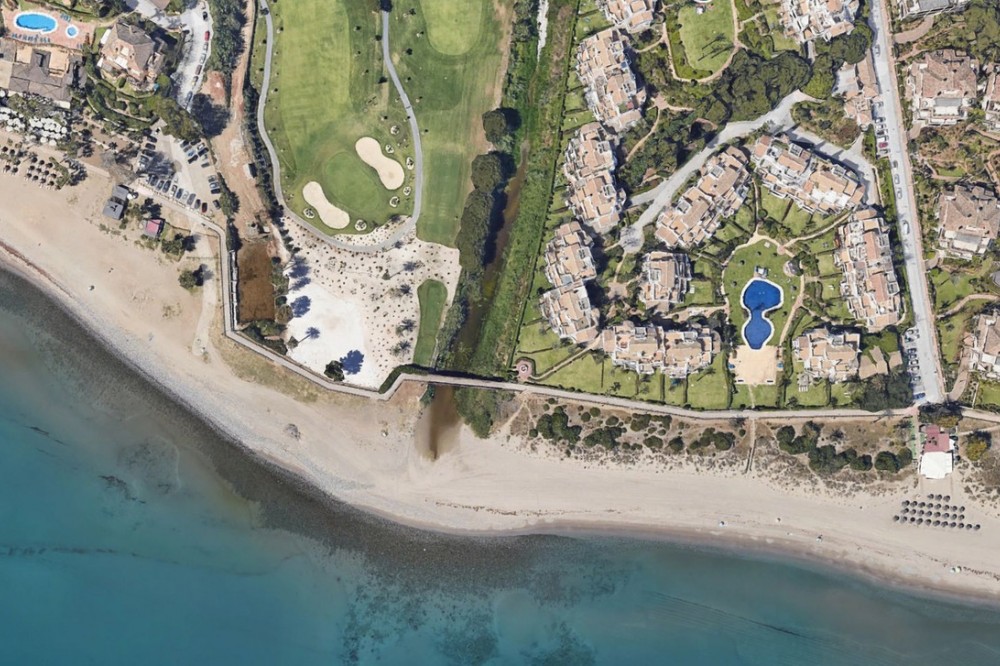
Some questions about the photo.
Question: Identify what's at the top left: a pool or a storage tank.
pool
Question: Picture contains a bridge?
No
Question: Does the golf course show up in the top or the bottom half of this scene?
top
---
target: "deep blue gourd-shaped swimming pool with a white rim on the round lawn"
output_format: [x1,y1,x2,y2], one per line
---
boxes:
[741,278,783,352]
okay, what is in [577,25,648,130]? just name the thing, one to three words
building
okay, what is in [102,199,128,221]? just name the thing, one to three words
shed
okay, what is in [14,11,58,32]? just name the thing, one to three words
swimming pool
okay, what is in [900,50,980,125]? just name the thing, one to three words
house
